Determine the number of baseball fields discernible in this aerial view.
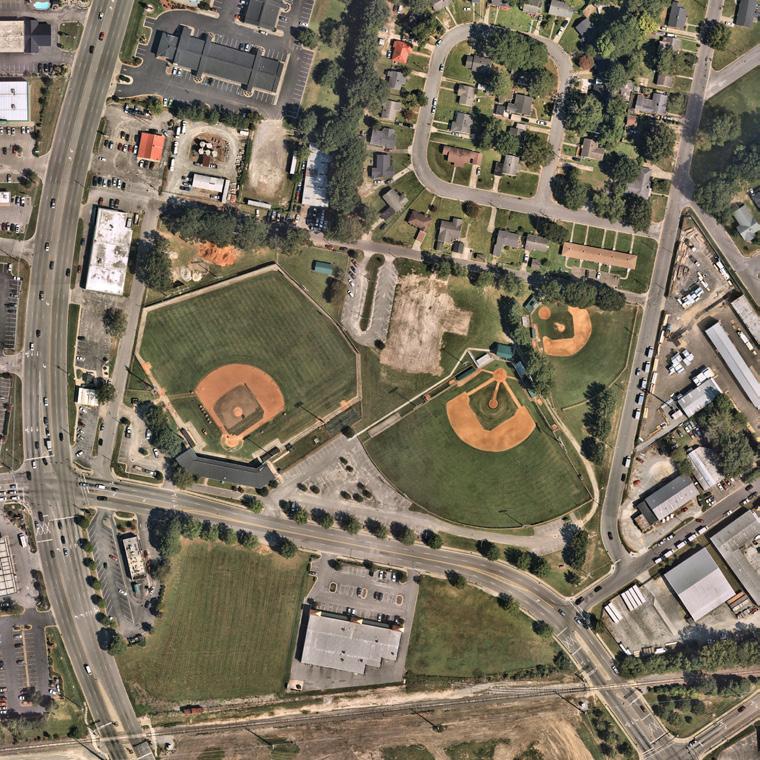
3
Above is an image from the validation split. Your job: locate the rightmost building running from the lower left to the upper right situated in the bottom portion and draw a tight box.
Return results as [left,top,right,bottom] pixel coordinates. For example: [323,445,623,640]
[712,510,760,554]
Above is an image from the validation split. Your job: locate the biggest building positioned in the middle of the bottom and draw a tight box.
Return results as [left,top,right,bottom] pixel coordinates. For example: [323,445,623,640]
[301,616,402,675]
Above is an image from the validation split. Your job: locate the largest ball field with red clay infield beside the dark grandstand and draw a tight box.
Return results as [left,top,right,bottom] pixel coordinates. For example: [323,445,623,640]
[136,262,361,468]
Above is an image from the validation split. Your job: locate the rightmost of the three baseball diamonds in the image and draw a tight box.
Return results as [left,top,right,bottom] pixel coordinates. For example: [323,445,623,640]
[533,304,635,406]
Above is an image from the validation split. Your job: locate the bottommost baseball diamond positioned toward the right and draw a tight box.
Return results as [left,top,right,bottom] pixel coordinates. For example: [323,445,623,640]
[364,362,592,527]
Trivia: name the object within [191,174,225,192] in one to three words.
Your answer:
shed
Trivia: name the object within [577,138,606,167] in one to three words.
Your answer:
house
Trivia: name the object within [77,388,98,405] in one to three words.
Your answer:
building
